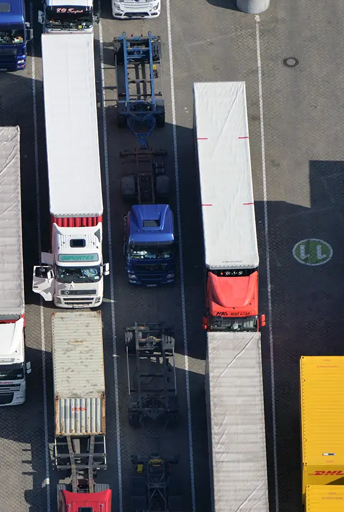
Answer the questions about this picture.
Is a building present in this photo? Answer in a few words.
No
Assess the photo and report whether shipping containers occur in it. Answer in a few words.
Yes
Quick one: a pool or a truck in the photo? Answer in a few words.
truck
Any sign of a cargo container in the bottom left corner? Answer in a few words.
Yes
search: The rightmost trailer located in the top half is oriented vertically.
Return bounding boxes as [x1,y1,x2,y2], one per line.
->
[192,82,259,312]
